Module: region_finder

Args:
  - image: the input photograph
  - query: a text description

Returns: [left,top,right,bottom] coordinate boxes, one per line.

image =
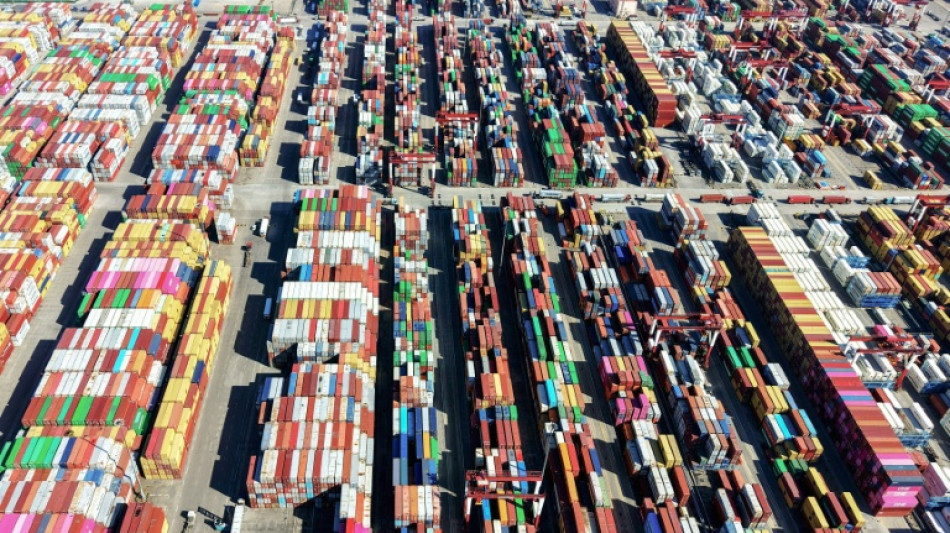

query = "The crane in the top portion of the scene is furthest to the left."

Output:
[386,154,437,197]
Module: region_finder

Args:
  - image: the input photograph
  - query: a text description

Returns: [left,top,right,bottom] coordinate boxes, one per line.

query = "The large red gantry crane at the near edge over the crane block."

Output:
[459,474,549,533]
